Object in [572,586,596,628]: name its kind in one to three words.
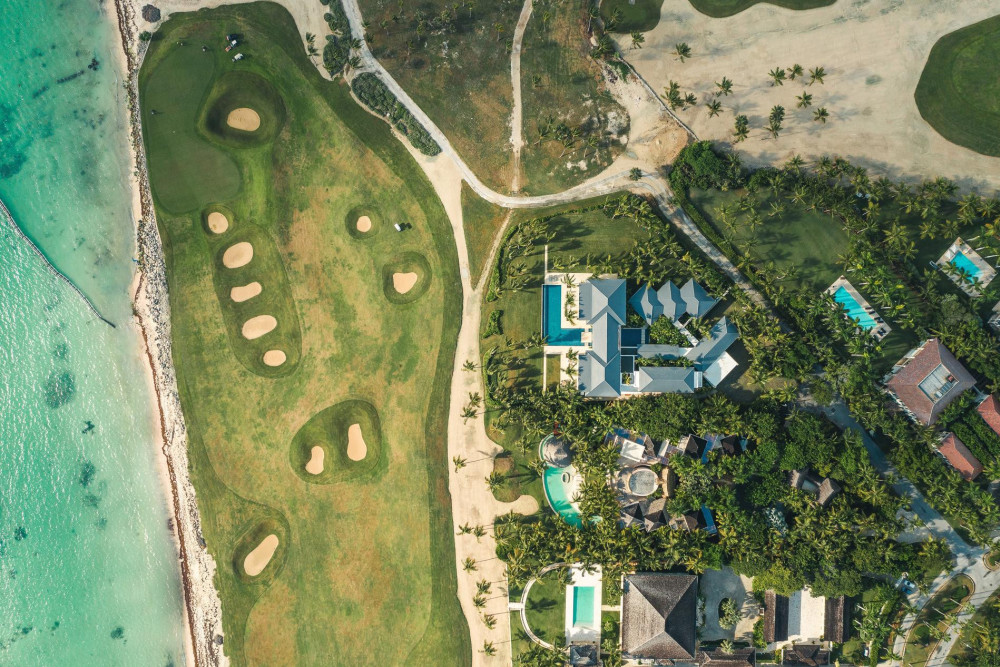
swimming pool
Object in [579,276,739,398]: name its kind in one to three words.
house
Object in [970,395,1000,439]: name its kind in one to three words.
house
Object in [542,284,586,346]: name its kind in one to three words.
swimming pool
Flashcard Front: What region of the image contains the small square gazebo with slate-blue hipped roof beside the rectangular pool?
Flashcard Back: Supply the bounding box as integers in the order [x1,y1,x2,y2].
[566,643,604,667]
